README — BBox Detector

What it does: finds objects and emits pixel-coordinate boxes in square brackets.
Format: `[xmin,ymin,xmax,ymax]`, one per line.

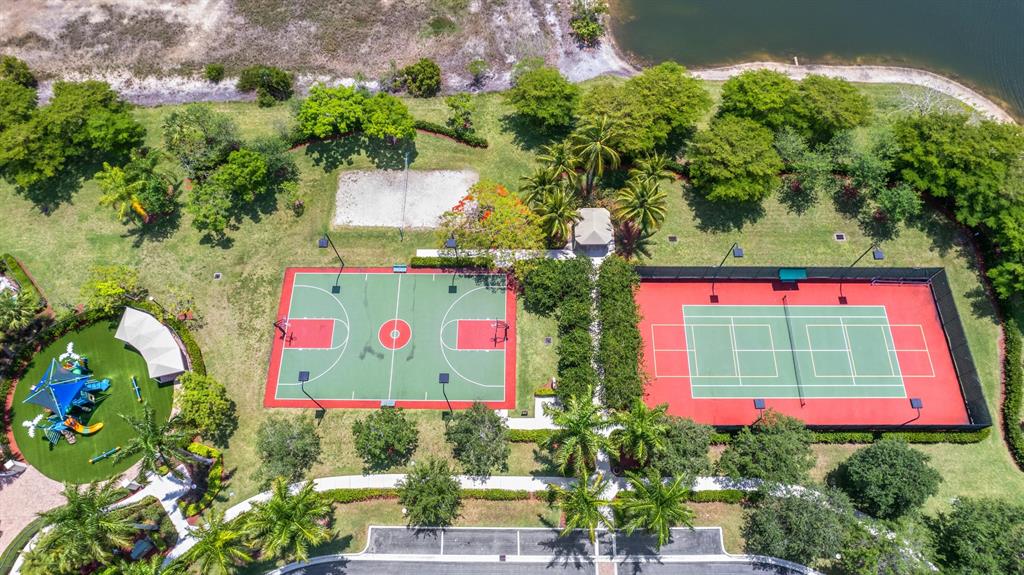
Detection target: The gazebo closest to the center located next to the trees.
[576,207,614,256]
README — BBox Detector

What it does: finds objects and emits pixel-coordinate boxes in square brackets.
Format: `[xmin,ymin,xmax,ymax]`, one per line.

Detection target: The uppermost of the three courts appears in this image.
[333,169,479,229]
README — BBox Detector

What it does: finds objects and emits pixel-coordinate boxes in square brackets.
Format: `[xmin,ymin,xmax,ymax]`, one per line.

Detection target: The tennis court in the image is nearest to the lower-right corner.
[630,279,970,426]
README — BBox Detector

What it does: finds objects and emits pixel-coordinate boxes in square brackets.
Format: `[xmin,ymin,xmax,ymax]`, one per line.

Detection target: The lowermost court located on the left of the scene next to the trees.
[264,266,516,410]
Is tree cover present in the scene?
Yes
